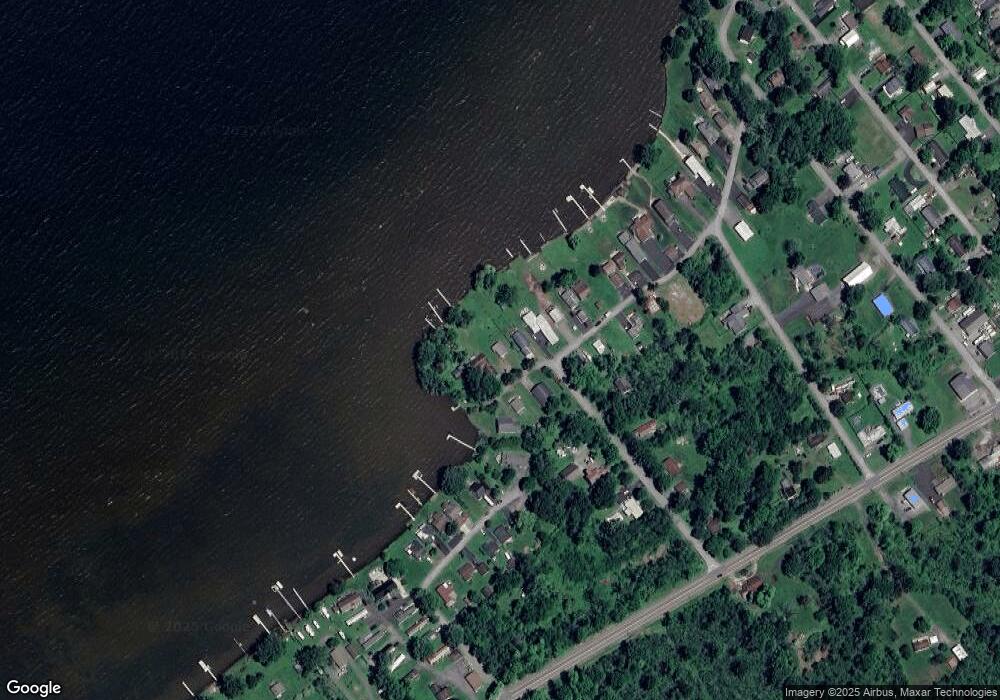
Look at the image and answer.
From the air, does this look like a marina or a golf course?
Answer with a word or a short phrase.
marina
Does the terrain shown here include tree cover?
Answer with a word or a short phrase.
Yes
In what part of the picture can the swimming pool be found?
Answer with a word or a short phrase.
right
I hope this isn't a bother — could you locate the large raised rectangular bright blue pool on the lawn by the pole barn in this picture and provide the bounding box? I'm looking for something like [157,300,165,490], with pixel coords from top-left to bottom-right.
[873,293,895,316]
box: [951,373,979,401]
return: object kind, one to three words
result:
building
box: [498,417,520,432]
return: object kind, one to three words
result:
house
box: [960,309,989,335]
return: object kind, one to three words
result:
house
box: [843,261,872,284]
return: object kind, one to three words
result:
barn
